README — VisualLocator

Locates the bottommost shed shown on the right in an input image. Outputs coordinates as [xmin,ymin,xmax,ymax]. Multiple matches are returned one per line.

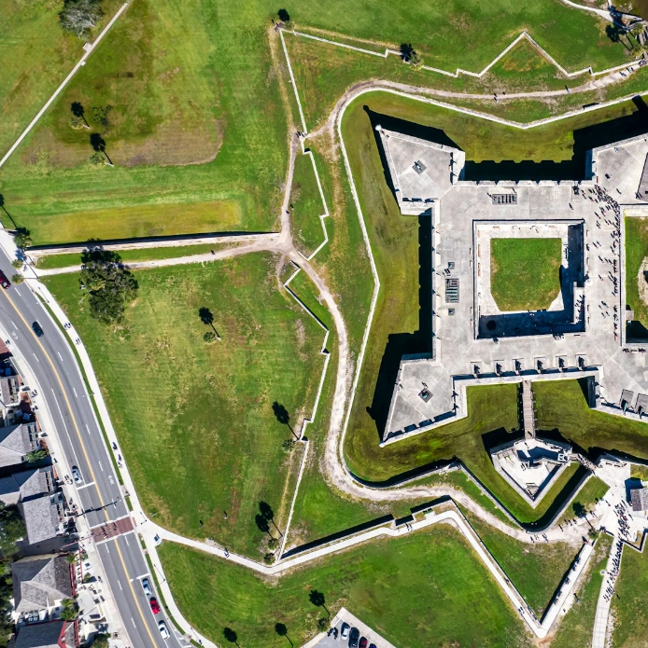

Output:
[630,487,648,511]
